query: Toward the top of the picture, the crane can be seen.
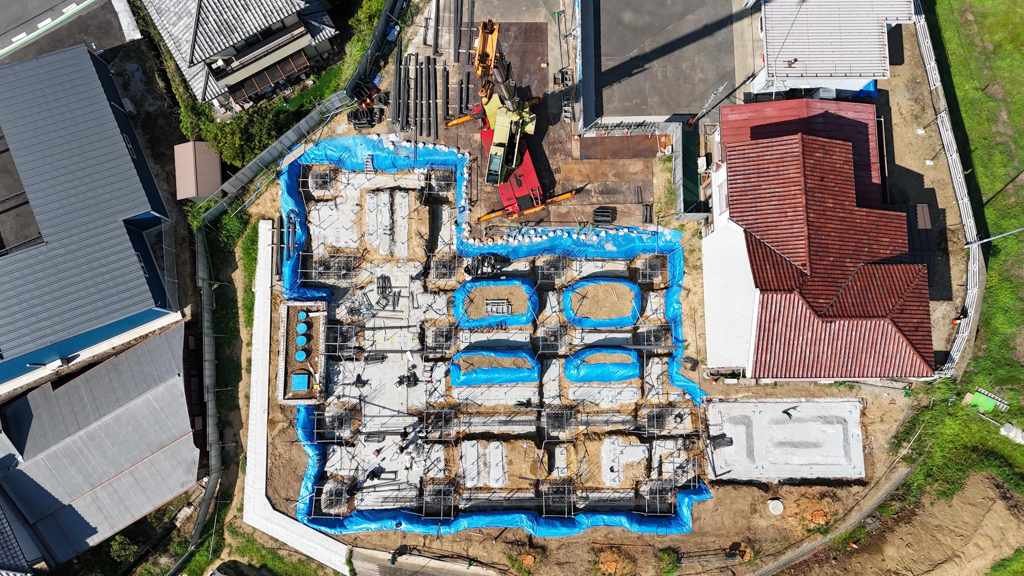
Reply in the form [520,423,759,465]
[443,21,576,227]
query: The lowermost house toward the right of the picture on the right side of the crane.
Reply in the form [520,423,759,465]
[698,99,939,379]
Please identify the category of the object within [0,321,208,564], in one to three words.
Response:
building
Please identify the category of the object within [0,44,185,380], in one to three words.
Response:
building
